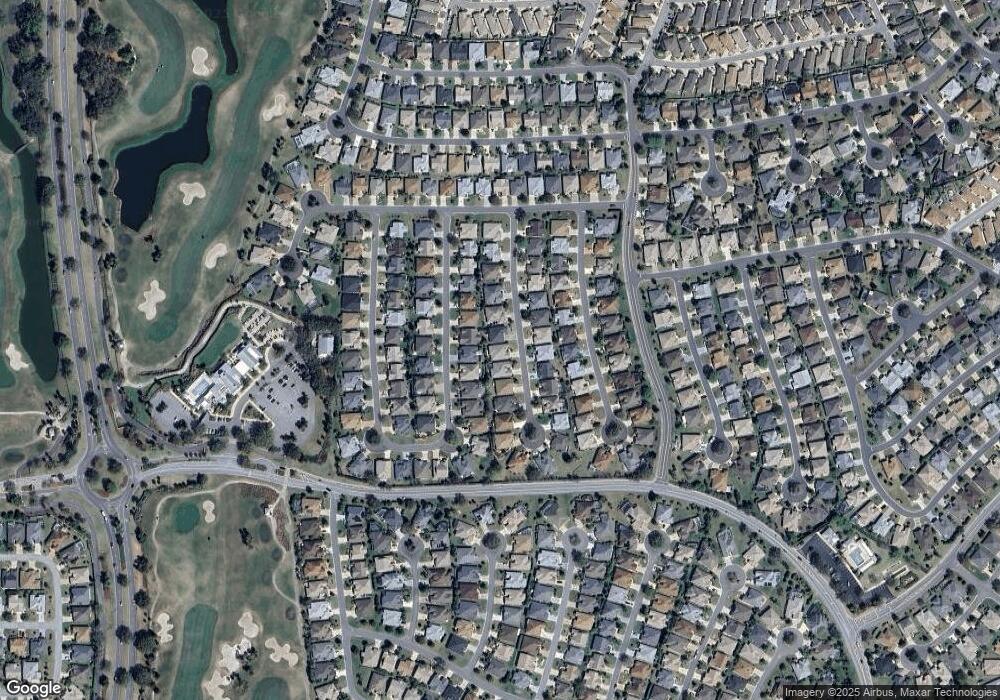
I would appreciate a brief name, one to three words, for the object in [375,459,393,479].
house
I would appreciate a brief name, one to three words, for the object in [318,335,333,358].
shed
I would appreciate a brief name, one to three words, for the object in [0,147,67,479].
golf course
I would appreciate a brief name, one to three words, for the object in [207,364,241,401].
building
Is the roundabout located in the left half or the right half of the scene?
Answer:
left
